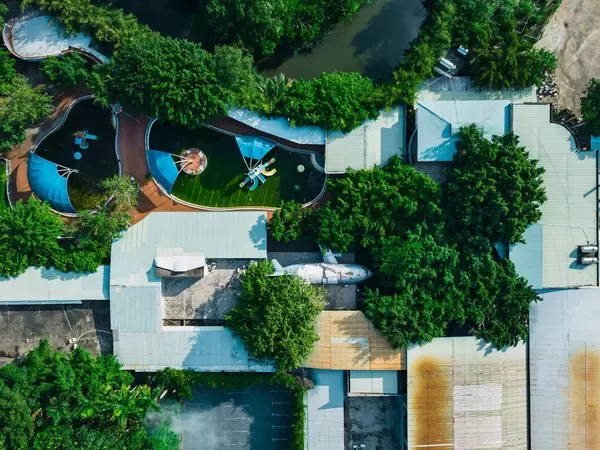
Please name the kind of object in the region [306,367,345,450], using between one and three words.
shed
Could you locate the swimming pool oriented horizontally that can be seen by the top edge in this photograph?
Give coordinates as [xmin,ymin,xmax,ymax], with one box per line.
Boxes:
[1,13,112,65]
